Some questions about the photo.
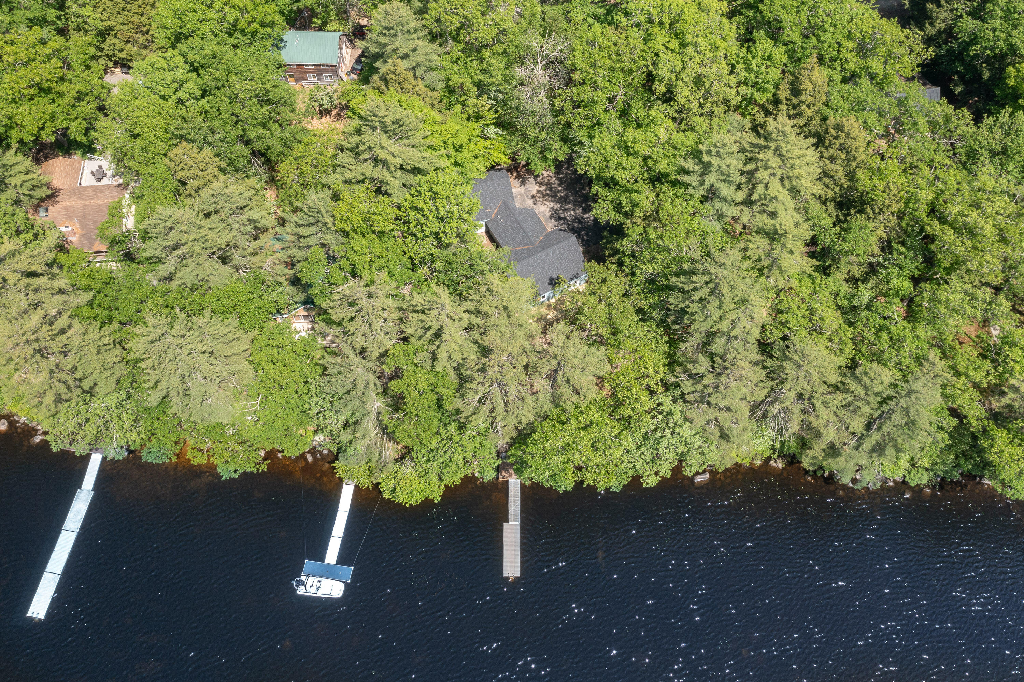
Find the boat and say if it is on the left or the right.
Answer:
left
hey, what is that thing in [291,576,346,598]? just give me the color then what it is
white boat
